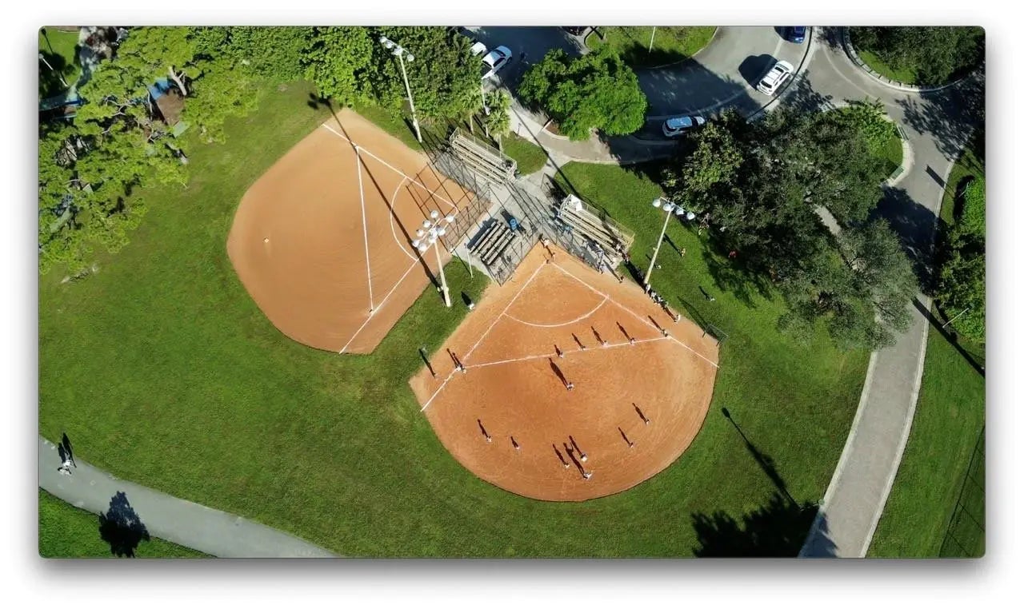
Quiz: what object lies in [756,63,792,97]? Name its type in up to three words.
car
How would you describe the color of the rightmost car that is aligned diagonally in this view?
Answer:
white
